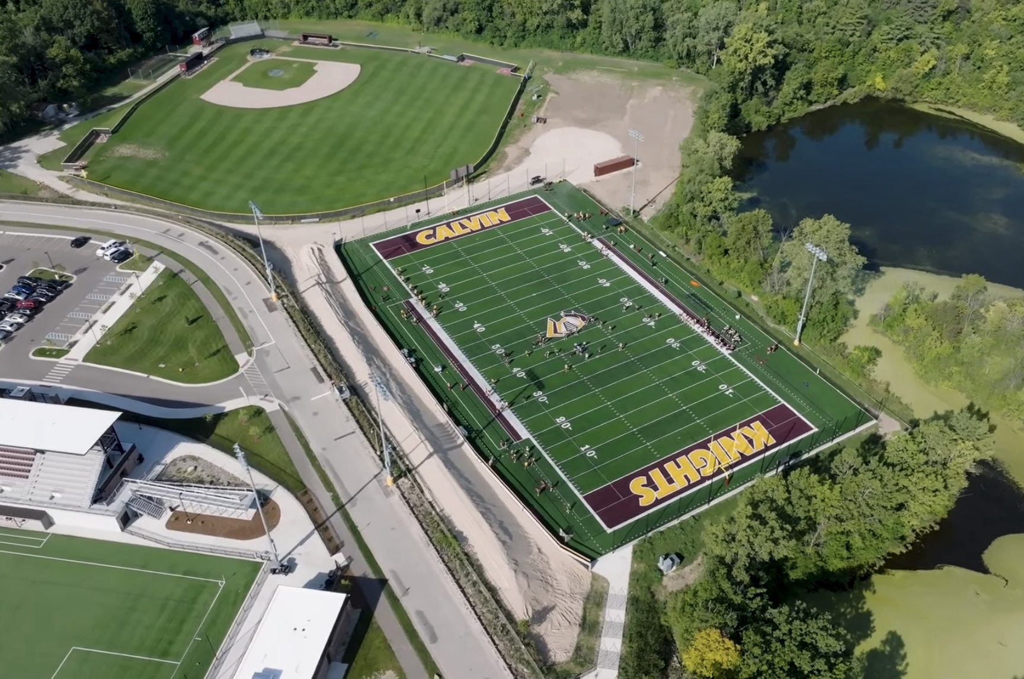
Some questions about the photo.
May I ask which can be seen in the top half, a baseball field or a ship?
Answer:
baseball field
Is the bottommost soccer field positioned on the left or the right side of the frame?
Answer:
left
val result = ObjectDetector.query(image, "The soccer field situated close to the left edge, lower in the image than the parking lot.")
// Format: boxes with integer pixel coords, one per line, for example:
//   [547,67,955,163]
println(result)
[0,527,264,679]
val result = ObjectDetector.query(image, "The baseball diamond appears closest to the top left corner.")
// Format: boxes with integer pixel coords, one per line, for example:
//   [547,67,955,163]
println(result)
[77,35,520,214]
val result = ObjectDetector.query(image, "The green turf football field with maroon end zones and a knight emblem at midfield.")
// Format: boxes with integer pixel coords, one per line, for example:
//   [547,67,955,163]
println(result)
[342,180,877,562]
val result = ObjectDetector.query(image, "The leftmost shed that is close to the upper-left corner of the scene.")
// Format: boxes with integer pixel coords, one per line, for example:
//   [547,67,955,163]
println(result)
[34,102,61,119]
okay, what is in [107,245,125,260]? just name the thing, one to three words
car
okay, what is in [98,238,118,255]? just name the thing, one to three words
vehicle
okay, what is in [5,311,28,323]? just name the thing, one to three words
vehicle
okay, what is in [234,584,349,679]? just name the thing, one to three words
building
